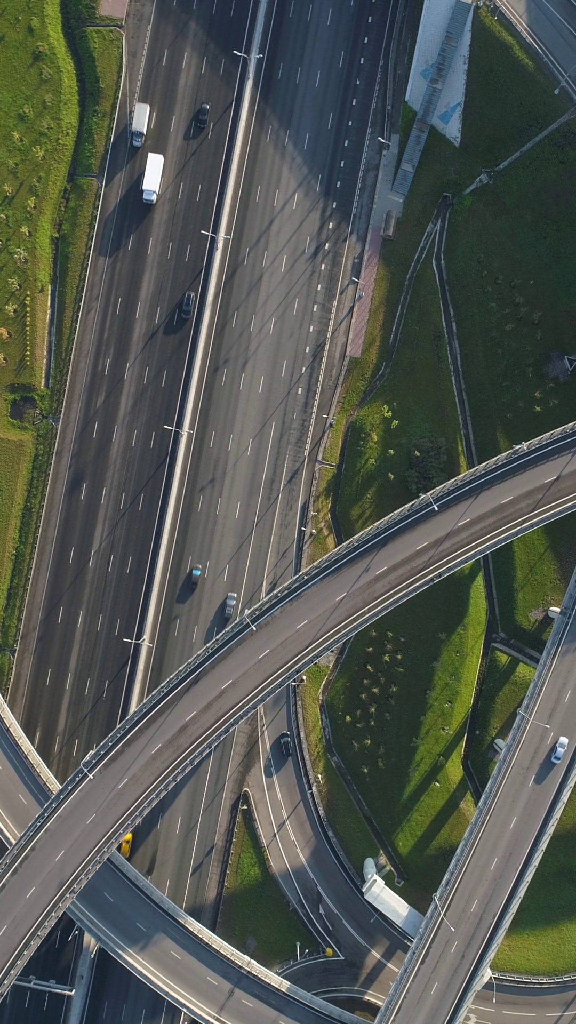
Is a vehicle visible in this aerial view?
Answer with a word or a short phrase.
Yes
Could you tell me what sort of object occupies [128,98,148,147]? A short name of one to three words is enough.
vehicle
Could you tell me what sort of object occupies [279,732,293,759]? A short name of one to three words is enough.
car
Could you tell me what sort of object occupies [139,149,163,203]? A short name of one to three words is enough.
truck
